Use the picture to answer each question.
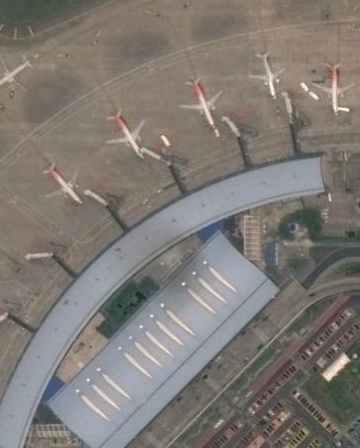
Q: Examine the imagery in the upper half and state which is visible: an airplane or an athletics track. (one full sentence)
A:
There is an airplane in the upper half.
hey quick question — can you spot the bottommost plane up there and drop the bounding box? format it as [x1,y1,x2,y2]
[43,160,84,204]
